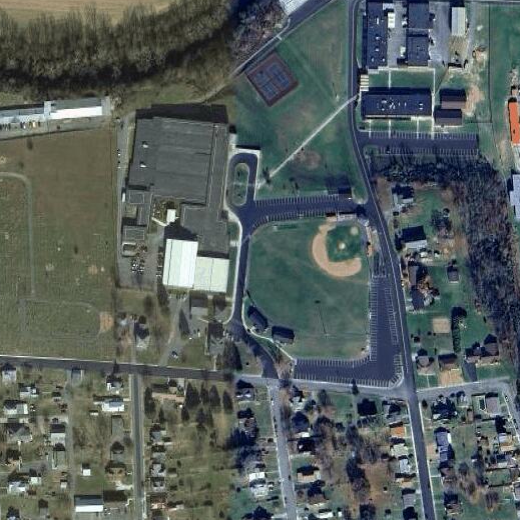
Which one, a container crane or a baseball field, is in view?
baseball field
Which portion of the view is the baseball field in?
center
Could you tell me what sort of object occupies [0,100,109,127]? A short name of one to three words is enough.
building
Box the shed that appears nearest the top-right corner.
[452,6,465,35]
